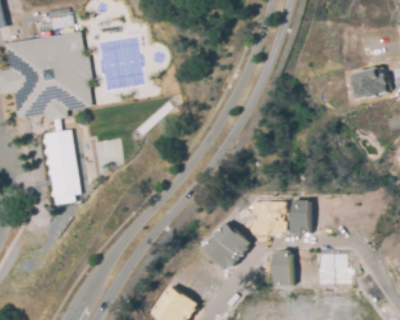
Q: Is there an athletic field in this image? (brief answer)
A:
Yes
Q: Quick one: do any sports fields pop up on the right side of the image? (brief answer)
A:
No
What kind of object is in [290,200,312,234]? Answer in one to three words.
house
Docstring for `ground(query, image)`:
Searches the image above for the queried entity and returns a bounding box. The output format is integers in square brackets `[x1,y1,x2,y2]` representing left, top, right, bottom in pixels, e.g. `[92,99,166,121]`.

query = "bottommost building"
[151,287,198,320]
